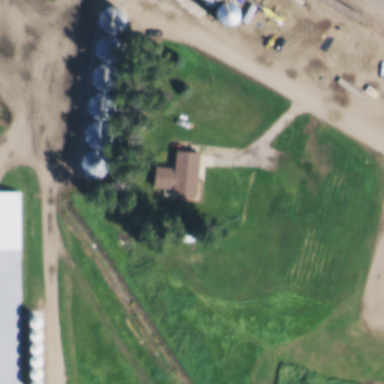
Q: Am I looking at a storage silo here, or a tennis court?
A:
storage silo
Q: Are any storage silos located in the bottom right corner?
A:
No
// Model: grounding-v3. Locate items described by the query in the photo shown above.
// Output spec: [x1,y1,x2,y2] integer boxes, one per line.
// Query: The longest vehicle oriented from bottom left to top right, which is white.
[242,4,260,26]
